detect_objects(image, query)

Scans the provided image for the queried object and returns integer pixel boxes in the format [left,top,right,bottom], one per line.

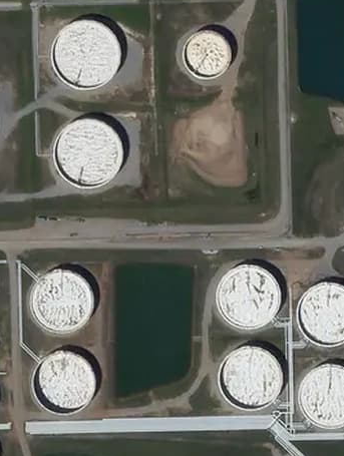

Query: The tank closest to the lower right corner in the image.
[297,363,344,430]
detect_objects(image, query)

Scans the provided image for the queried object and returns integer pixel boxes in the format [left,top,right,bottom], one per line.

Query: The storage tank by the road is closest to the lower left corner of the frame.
[31,350,97,416]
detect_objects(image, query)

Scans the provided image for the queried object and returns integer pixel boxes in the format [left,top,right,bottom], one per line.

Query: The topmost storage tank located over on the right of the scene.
[181,29,232,80]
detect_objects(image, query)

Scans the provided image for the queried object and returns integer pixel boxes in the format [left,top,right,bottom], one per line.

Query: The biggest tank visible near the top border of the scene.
[50,19,122,91]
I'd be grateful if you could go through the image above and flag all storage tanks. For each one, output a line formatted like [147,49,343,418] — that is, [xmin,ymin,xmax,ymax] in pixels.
[53,118,125,189]
[31,350,97,416]
[296,281,344,348]
[215,264,282,331]
[217,344,285,412]
[50,19,122,91]
[181,29,232,80]
[31,269,94,332]
[297,363,344,430]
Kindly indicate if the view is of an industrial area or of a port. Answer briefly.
industrial area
